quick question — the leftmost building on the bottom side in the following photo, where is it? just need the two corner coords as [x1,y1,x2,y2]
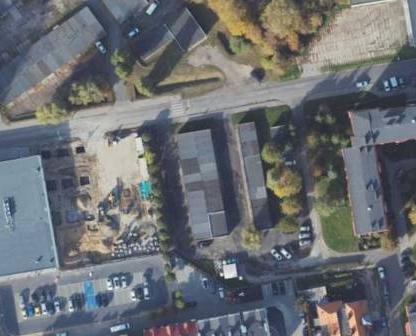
[0,155,60,278]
